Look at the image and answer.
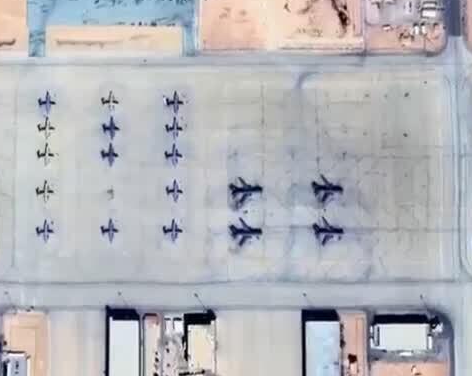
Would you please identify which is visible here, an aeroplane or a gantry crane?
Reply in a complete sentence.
It is an aeroplane that can be seen here.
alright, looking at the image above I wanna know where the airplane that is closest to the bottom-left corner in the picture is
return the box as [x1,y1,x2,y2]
[38,221,54,244]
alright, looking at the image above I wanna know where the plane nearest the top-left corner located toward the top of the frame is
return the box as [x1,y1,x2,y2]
[39,92,56,115]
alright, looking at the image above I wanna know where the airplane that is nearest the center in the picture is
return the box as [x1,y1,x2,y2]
[232,179,262,206]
